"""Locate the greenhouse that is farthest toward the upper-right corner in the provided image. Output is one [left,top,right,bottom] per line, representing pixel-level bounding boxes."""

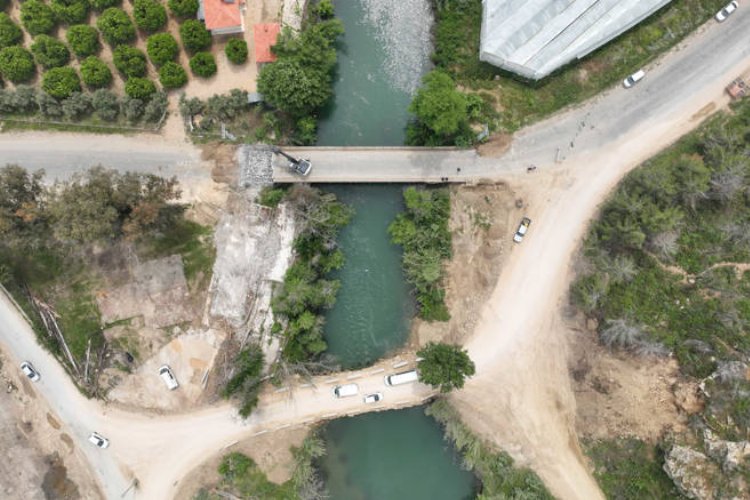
[480,0,678,81]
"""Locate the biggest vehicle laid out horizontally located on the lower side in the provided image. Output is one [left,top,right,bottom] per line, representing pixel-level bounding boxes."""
[385,370,420,387]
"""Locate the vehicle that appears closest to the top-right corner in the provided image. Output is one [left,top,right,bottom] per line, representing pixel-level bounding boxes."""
[715,1,738,21]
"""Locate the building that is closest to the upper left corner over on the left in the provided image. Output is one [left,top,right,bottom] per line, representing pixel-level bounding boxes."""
[196,0,248,38]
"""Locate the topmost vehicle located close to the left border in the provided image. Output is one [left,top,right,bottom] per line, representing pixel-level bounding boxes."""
[20,361,41,382]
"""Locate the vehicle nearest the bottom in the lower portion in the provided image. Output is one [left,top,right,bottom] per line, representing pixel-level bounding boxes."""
[89,433,111,447]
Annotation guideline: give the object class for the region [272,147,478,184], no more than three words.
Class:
bridge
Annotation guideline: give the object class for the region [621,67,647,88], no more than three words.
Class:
vehicle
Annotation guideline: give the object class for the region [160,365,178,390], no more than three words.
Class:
vehicle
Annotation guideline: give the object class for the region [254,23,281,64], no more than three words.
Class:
house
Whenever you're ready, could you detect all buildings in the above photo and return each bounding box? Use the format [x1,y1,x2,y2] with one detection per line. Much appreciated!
[196,0,248,38]
[254,23,281,64]
[480,0,678,81]
[245,92,261,105]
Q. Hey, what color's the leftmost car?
white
